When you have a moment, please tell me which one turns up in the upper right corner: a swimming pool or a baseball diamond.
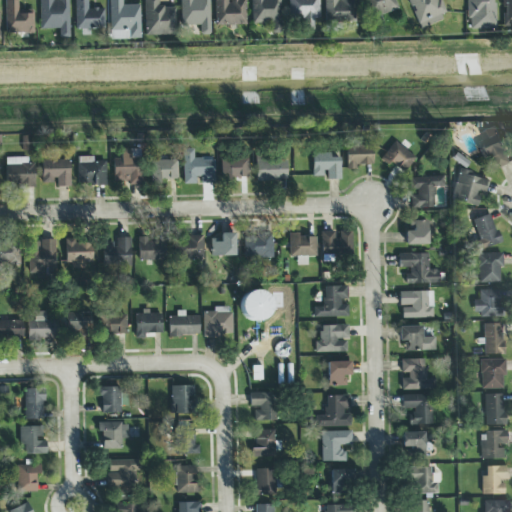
swimming pool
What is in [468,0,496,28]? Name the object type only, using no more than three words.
house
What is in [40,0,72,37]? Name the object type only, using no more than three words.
house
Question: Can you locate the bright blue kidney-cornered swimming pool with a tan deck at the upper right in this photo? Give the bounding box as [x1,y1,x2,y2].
[453,121,480,155]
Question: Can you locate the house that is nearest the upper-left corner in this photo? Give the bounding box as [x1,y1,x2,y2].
[6,0,36,38]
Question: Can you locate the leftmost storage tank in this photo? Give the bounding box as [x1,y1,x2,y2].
[242,288,276,321]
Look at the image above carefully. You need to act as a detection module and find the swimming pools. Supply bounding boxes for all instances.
[434,188,446,208]
[453,121,480,155]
